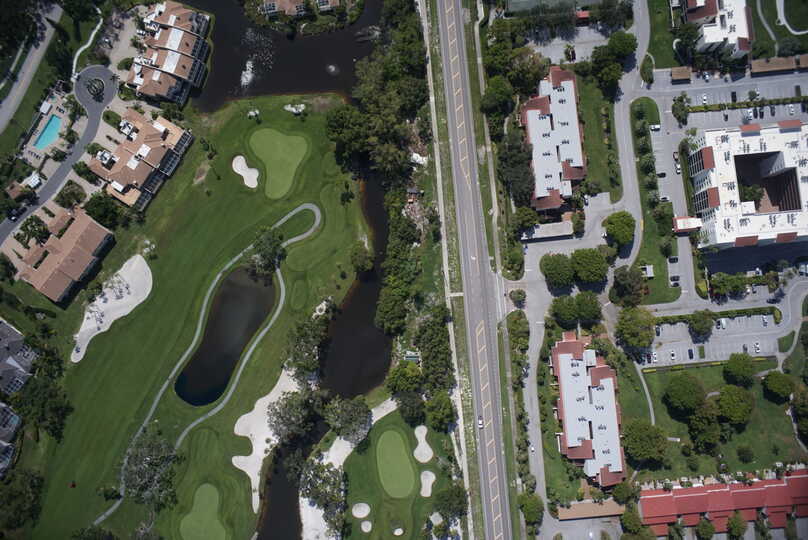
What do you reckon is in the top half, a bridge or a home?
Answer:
home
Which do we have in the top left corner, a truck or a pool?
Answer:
pool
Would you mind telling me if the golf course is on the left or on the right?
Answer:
left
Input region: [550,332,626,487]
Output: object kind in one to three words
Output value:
building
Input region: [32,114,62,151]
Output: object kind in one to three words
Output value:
swimming pool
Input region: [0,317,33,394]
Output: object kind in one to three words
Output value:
house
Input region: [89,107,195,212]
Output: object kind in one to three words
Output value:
house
